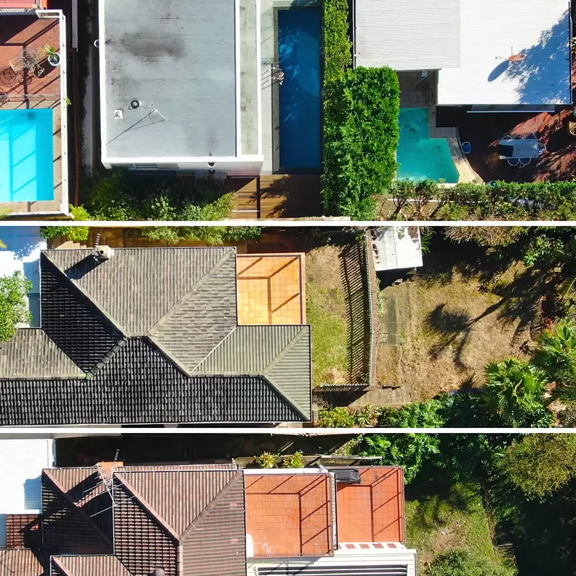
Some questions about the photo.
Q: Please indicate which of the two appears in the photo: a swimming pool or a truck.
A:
swimming pool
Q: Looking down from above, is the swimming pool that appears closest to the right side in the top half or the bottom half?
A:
top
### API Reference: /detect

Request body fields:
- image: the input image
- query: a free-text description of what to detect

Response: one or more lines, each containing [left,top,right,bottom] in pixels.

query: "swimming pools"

[0,102,61,210]
[272,1,324,174]
[393,105,482,185]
